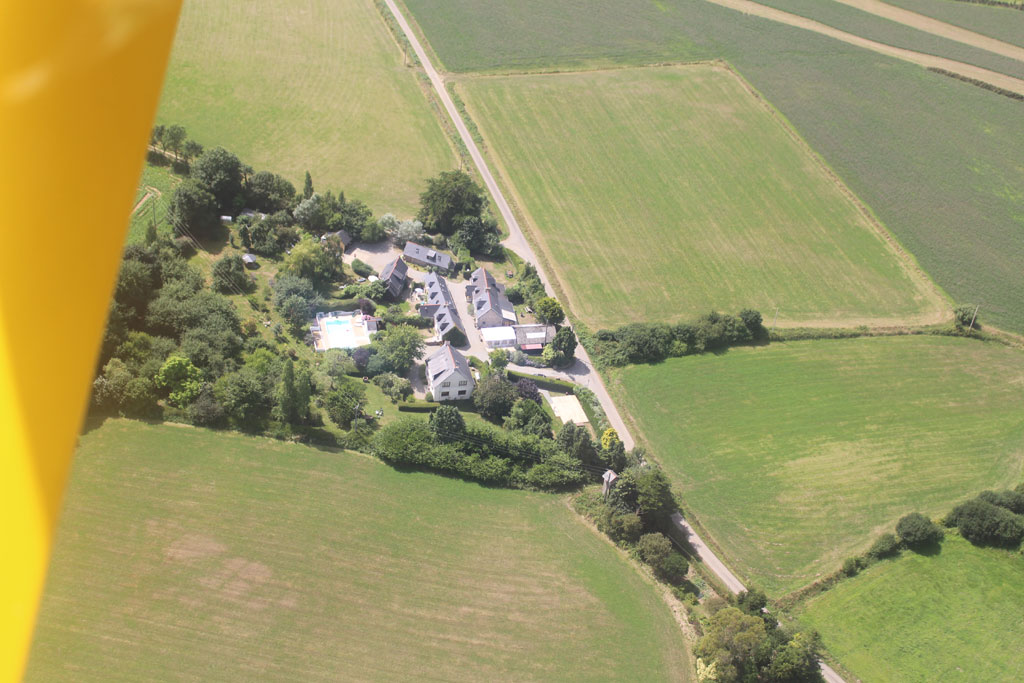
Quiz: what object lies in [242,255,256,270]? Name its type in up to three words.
gazebo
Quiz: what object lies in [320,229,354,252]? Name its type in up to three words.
shed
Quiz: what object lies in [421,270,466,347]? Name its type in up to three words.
house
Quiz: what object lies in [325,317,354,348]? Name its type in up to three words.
swimming pool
